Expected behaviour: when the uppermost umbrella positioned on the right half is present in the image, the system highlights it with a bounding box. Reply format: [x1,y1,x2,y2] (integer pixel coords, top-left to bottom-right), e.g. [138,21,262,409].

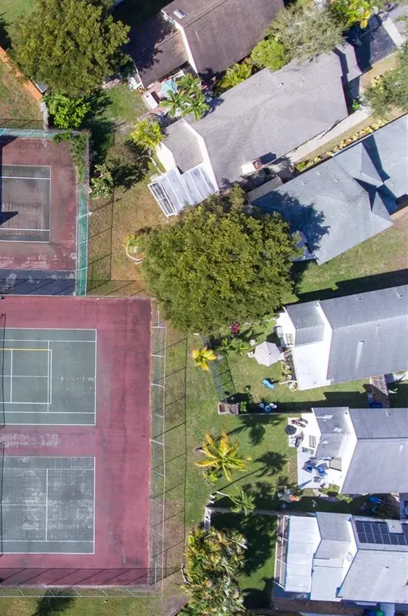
[251,340,279,367]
